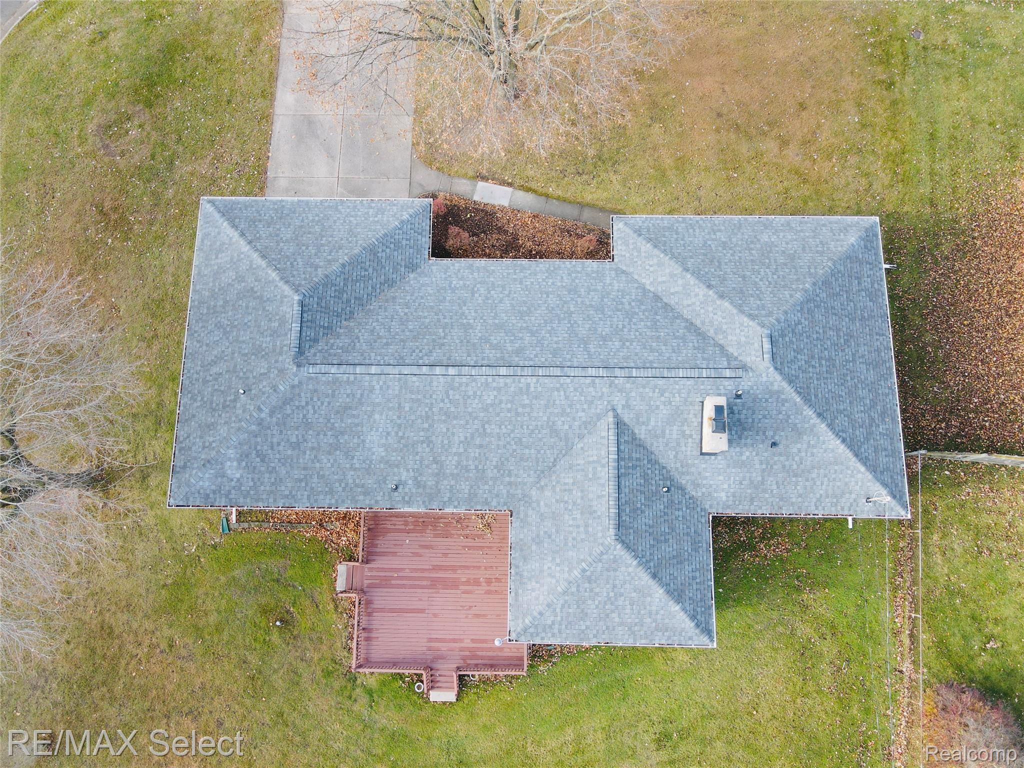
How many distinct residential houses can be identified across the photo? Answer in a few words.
1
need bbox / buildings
[168,198,910,646]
